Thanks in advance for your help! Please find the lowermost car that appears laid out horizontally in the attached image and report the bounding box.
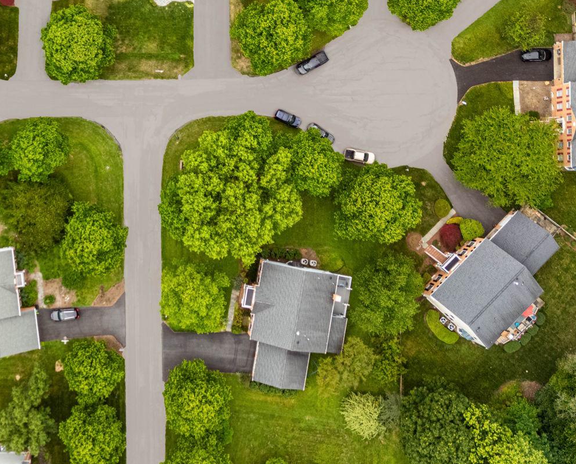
[50,309,78,322]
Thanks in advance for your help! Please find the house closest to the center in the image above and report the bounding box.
[238,260,354,388]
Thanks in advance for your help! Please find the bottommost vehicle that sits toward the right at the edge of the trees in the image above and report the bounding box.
[344,149,377,163]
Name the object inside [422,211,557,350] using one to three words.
house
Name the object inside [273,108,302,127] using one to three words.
car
